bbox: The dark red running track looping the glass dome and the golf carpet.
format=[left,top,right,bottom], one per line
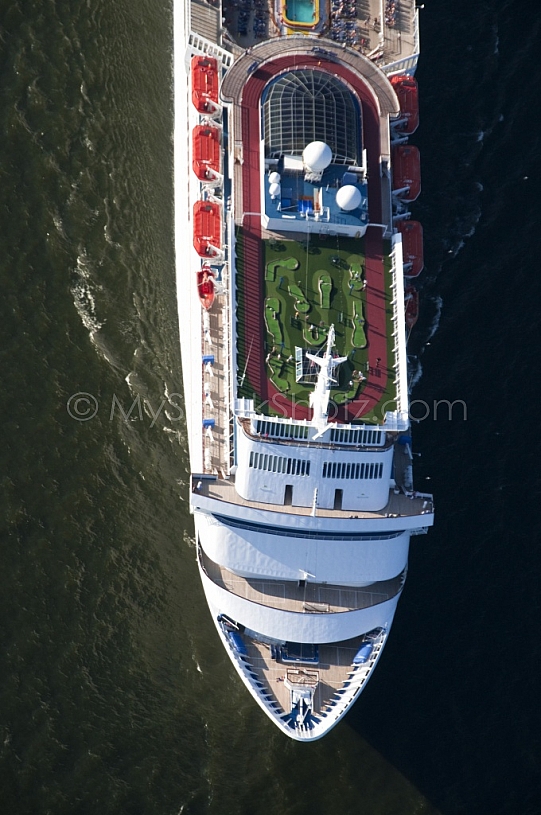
[241,54,388,423]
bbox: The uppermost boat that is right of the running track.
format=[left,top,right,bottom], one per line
[389,69,417,126]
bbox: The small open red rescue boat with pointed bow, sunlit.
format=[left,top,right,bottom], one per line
[198,263,216,314]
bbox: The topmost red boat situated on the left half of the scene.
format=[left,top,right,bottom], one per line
[190,59,220,113]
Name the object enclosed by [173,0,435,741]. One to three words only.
ship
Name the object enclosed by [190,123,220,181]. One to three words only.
boat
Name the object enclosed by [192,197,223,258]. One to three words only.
boat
